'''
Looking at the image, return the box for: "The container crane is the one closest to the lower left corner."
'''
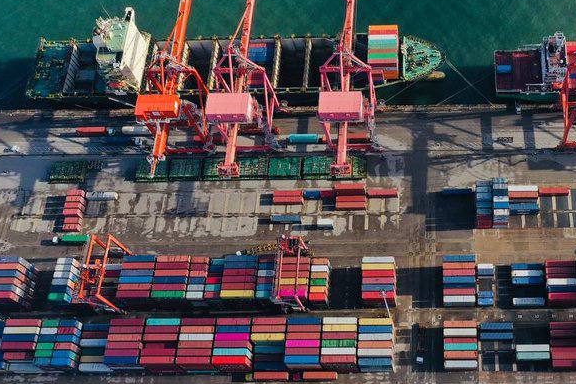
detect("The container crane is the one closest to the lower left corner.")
[75,233,138,318]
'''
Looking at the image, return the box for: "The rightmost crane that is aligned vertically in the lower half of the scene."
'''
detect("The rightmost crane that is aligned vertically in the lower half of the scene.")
[274,232,313,317]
